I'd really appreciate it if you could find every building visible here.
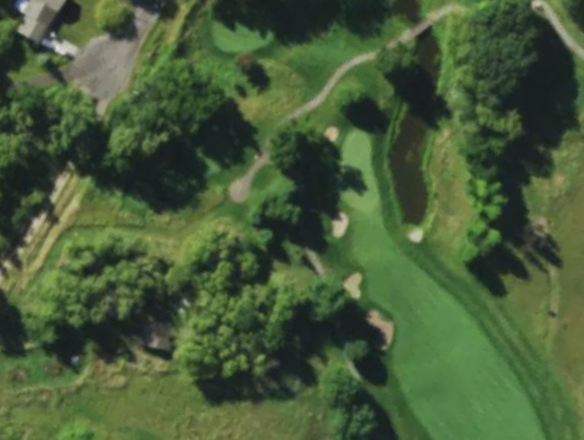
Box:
[19,0,66,47]
[147,324,173,348]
